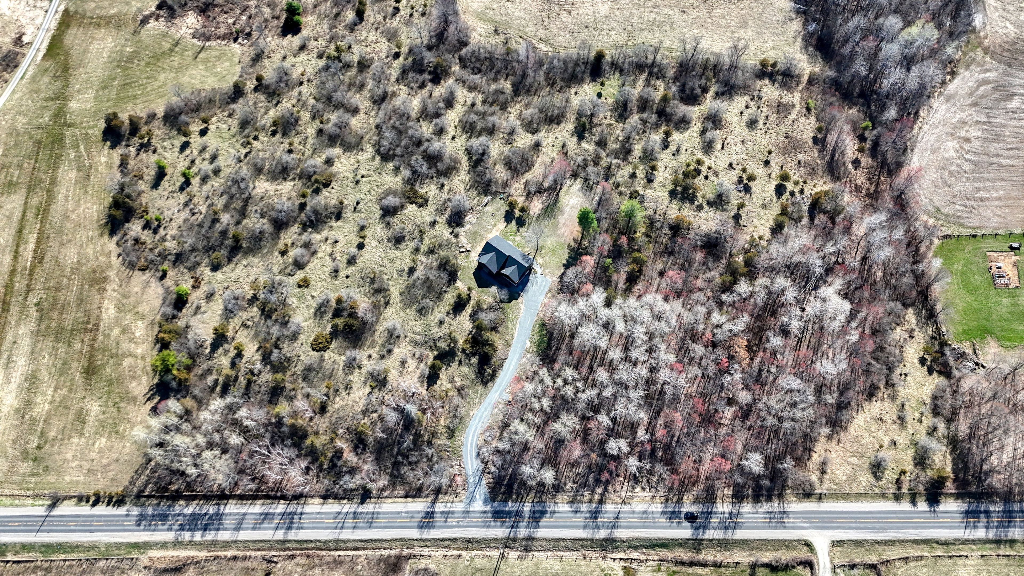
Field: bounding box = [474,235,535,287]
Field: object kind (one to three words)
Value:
house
